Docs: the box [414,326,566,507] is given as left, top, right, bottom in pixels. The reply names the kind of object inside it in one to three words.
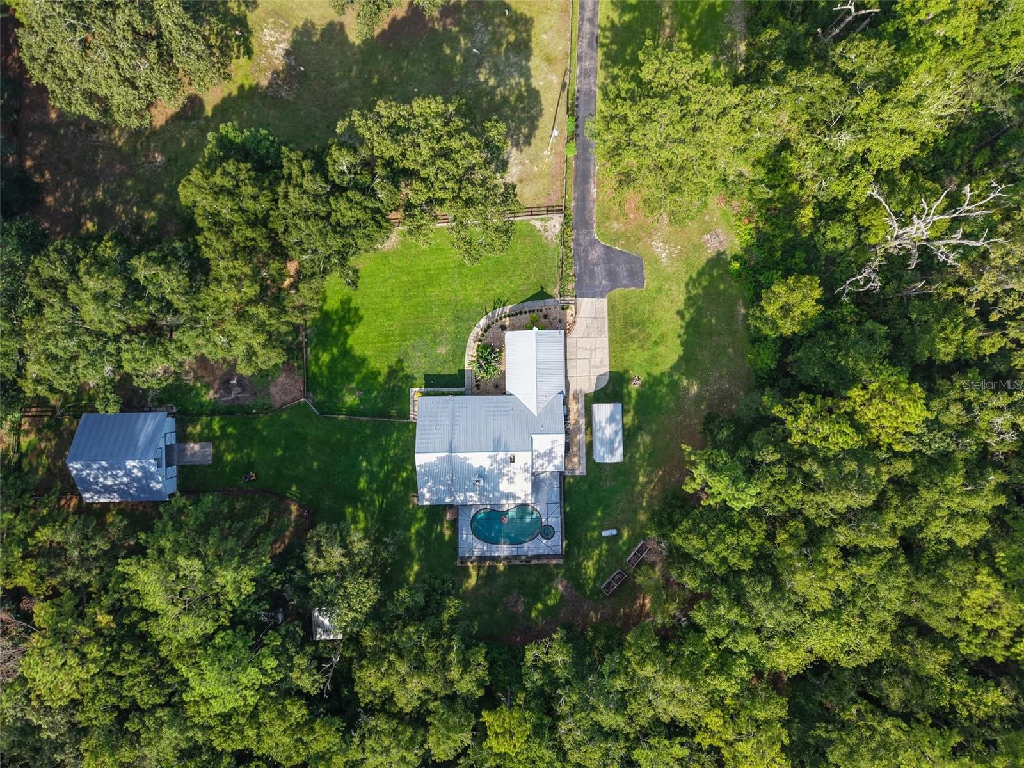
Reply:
house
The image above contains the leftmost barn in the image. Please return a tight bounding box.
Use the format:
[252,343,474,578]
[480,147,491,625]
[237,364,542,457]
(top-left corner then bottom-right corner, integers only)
[66,413,176,503]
